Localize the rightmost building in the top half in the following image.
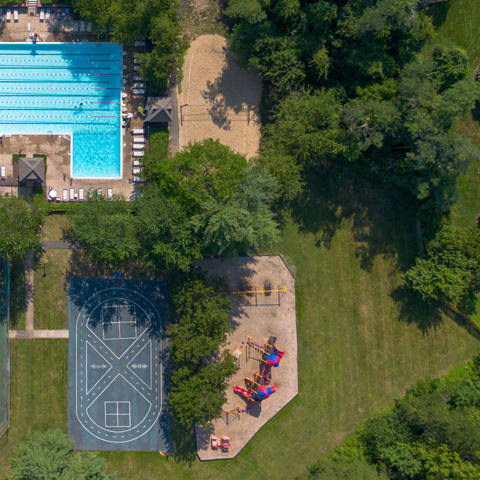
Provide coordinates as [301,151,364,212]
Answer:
[145,97,173,122]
